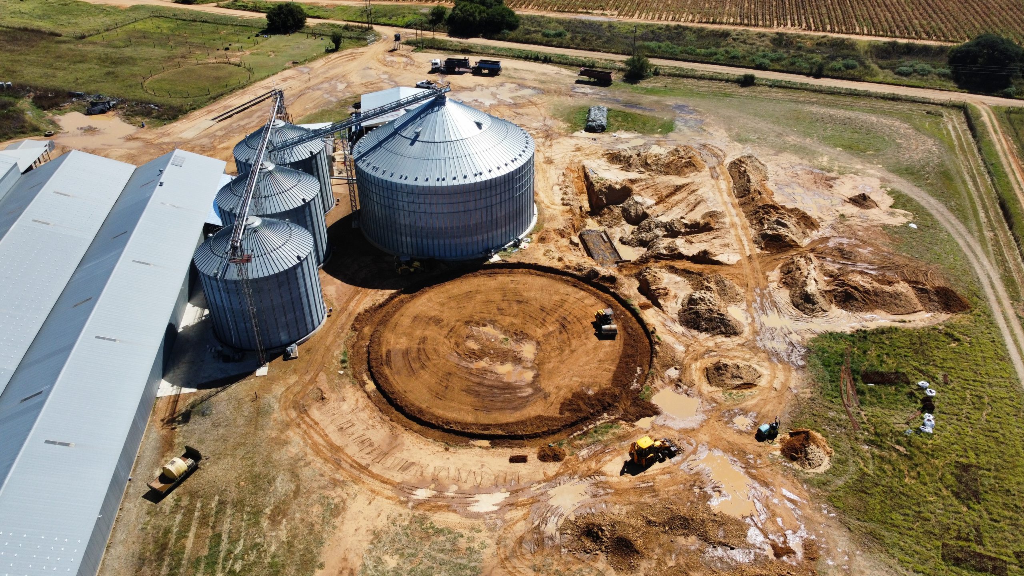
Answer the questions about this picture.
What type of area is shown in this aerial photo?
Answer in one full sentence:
The picture captures an industrial area.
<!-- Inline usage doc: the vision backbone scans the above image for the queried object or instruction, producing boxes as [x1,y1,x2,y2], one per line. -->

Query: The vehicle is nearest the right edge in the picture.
[754,421,788,445]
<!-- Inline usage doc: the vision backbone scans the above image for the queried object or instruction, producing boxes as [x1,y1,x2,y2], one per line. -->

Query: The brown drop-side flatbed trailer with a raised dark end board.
[146,442,205,493]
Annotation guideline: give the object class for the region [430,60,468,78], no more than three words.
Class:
vehicle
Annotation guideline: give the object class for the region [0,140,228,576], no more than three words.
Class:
shed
